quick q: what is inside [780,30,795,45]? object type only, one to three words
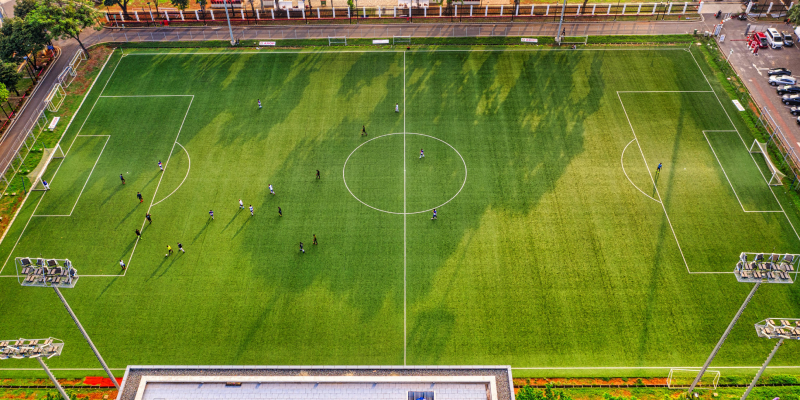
car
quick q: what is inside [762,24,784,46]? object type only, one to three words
vehicle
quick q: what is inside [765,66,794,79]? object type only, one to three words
vehicle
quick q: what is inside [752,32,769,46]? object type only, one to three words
car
